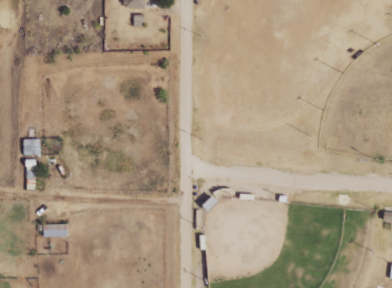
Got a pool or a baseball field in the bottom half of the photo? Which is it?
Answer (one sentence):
It is a baseball field that can be seen in the bottom half of the photo.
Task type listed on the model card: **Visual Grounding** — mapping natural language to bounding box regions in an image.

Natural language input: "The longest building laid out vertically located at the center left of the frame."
[25,158,37,190]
